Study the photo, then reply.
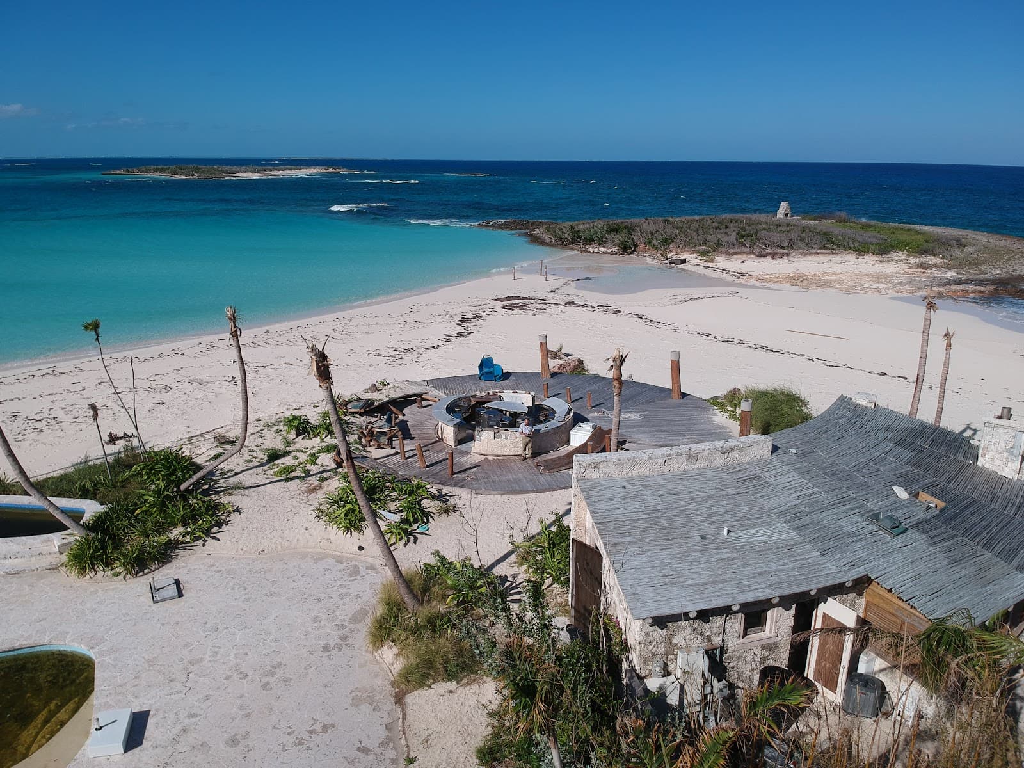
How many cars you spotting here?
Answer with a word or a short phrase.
0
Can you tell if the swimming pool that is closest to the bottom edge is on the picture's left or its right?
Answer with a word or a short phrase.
left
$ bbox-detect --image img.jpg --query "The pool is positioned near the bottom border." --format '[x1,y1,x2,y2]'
[0,646,96,768]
